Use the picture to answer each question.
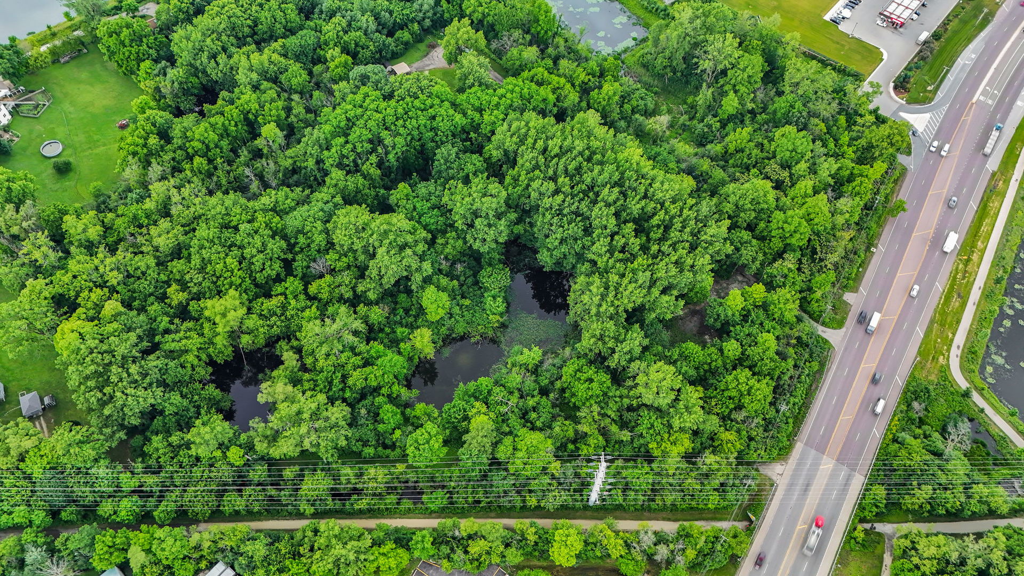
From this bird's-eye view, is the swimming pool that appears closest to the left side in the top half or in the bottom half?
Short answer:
top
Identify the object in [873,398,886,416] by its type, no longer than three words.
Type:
vehicle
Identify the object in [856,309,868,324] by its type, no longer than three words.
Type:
vehicle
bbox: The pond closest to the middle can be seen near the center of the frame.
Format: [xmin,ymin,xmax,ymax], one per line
[404,240,581,410]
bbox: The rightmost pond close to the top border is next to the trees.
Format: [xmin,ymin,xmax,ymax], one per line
[545,0,650,54]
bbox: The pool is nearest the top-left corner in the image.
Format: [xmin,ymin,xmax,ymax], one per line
[40,139,65,159]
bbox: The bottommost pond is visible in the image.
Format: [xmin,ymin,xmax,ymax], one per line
[206,339,288,440]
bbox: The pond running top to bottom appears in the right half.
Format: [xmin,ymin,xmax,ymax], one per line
[980,244,1024,418]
